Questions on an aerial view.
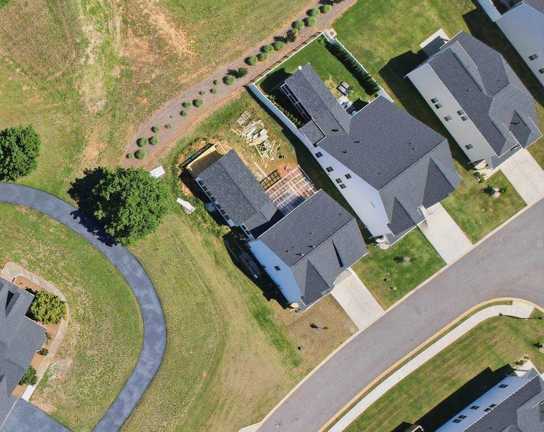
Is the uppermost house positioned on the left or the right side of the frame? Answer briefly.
right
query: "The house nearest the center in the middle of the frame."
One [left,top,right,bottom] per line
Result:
[194,150,368,312]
